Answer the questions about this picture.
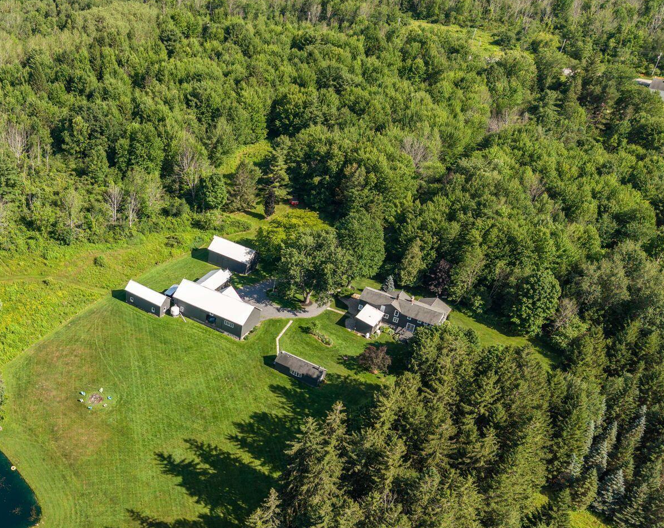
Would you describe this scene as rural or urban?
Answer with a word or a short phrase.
rural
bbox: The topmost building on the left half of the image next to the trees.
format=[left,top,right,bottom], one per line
[206,233,266,275]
